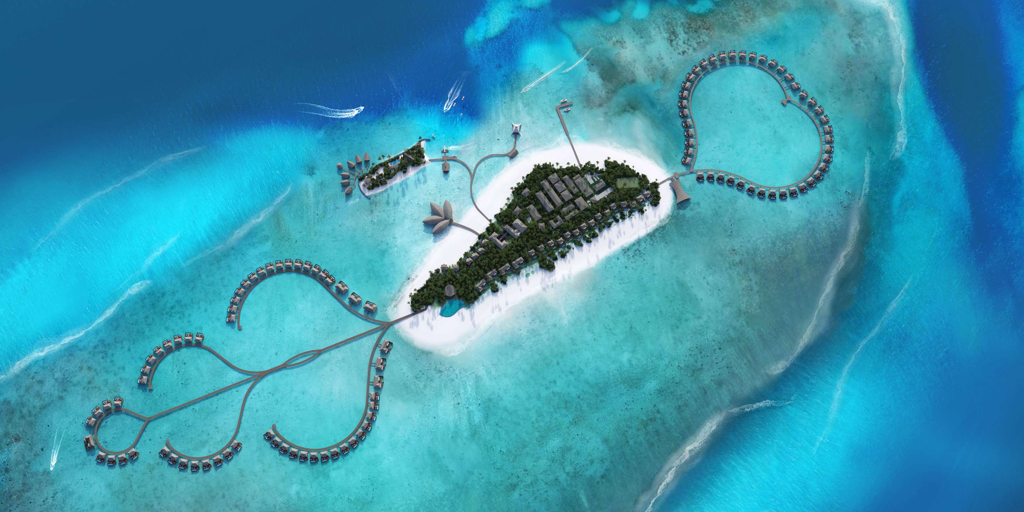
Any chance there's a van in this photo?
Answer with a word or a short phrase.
No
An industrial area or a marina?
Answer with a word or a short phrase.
marina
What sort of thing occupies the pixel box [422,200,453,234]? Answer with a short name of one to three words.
building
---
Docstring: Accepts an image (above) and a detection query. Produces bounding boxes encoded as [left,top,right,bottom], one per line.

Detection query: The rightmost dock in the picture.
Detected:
[689,60,823,188]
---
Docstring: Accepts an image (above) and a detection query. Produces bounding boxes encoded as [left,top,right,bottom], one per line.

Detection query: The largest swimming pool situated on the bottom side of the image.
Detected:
[439,299,467,317]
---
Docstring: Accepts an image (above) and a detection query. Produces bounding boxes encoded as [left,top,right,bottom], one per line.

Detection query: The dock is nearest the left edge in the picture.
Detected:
[95,408,149,454]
